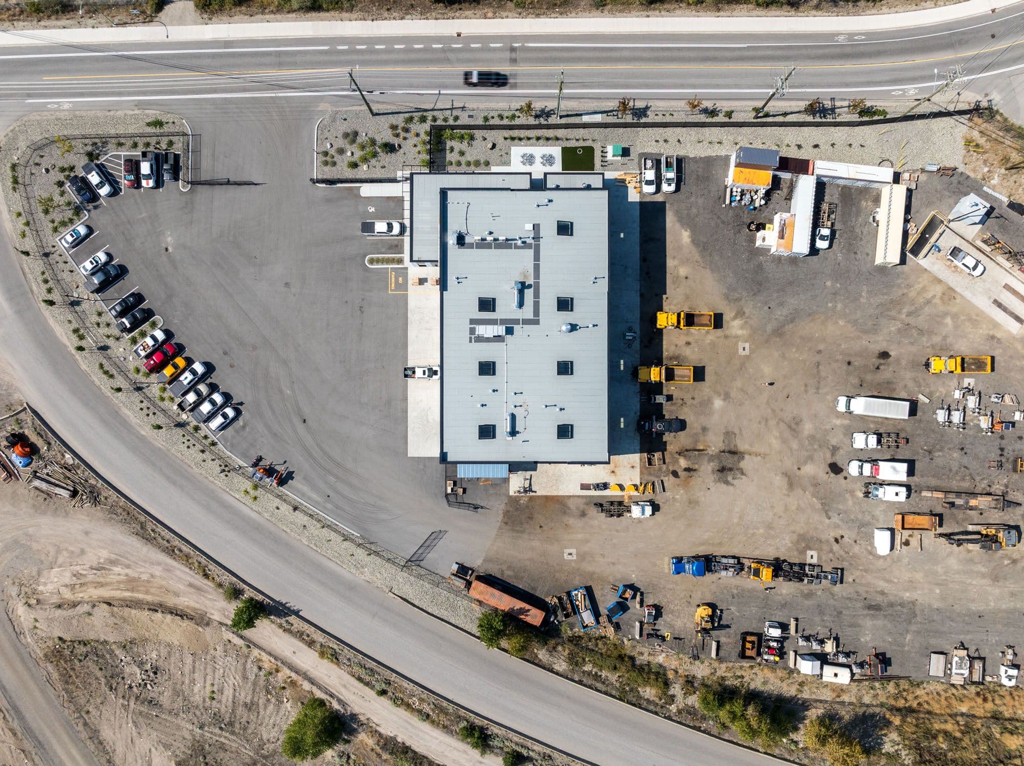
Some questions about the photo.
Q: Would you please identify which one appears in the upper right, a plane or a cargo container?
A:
cargo container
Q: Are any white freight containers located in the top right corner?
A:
Yes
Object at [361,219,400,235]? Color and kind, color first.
white vehicle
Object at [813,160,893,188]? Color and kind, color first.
white shipping container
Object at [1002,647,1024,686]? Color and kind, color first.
white truck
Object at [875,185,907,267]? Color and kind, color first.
white shipping container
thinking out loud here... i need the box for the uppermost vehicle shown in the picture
[466,67,507,85]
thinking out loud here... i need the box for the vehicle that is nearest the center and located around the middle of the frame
[403,365,440,380]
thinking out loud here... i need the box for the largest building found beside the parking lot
[403,165,611,478]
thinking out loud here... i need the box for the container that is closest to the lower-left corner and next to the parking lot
[470,575,547,627]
